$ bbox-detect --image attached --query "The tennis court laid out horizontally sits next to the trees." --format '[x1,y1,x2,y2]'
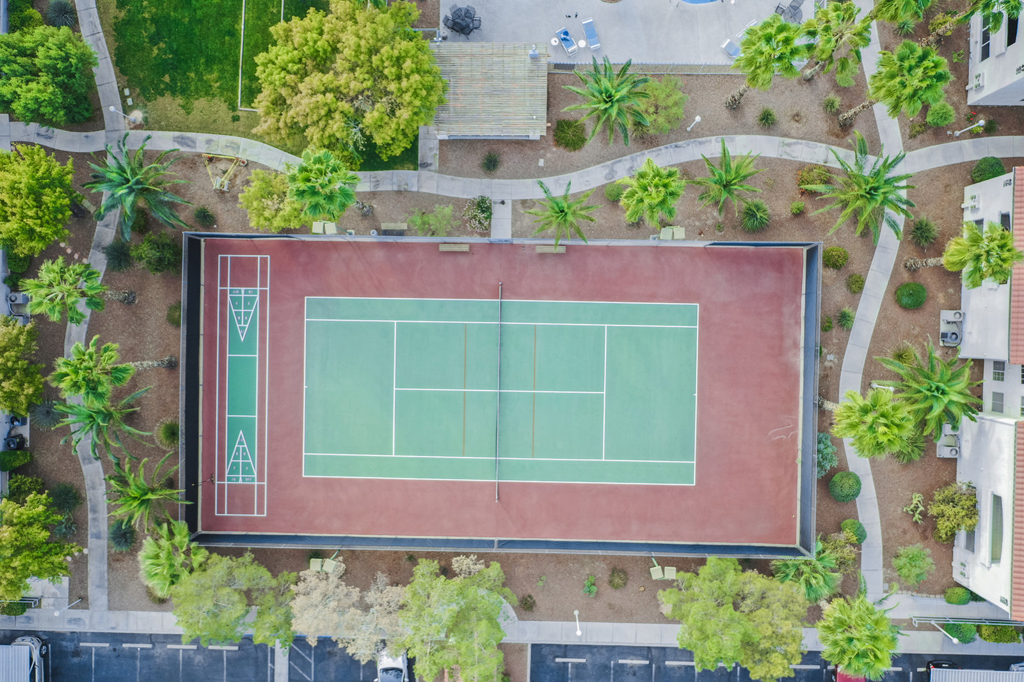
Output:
[200,239,803,541]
